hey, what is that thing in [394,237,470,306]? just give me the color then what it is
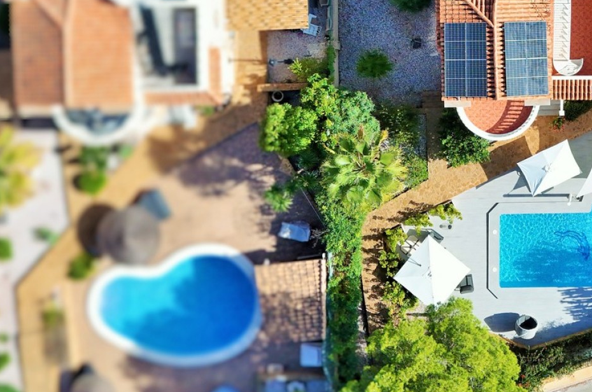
white umbrella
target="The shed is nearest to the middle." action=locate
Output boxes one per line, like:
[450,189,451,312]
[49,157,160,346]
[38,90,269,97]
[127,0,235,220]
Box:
[255,255,328,345]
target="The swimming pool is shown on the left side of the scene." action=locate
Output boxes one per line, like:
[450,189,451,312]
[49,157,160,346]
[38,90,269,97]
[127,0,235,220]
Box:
[90,241,259,368]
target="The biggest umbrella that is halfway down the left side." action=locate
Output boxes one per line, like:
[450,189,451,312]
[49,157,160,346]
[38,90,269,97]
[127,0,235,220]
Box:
[97,200,166,269]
